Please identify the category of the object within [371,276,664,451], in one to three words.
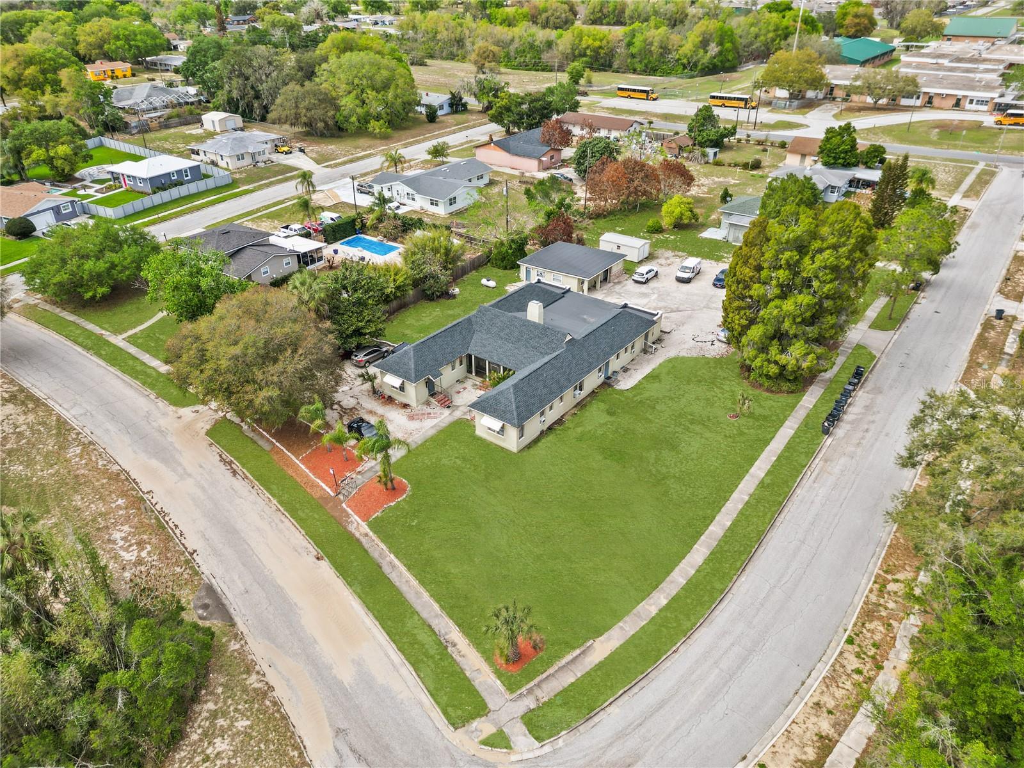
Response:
house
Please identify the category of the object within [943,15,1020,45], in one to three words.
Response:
building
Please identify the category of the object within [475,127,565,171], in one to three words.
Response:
house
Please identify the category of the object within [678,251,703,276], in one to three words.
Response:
vehicle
